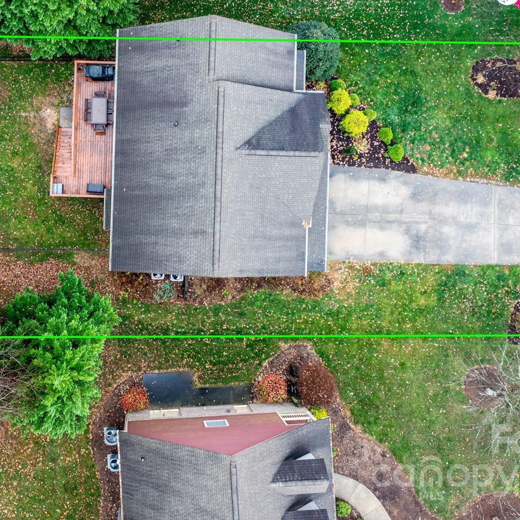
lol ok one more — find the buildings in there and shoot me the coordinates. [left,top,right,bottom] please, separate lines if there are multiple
[117,404,336,520]
[102,15,330,277]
